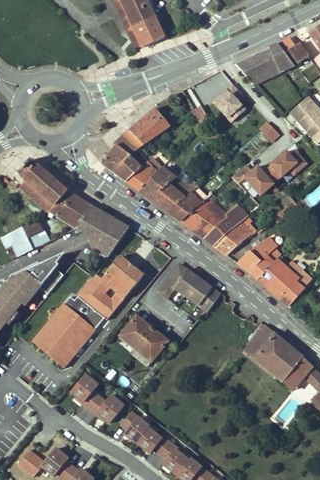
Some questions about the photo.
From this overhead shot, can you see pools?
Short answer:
Yes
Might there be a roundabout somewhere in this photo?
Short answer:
Yes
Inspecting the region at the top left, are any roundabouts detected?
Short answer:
Yes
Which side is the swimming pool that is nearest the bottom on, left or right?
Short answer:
right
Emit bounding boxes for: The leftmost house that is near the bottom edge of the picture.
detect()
[14,451,45,480]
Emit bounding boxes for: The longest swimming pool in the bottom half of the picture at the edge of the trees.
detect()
[270,384,318,428]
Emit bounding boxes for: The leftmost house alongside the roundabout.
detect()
[20,162,68,212]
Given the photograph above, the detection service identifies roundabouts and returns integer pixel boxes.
[10,70,96,154]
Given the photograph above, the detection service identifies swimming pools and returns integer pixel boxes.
[304,184,320,208]
[118,376,132,386]
[270,384,318,428]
